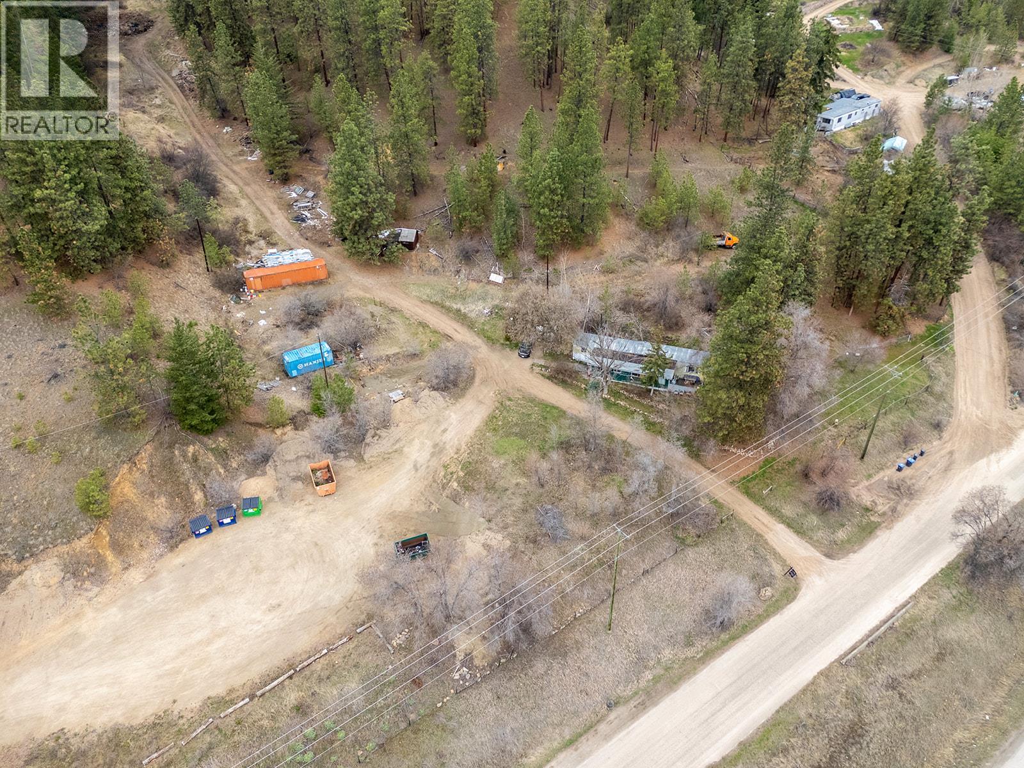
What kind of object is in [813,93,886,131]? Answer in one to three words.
house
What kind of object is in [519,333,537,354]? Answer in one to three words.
car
